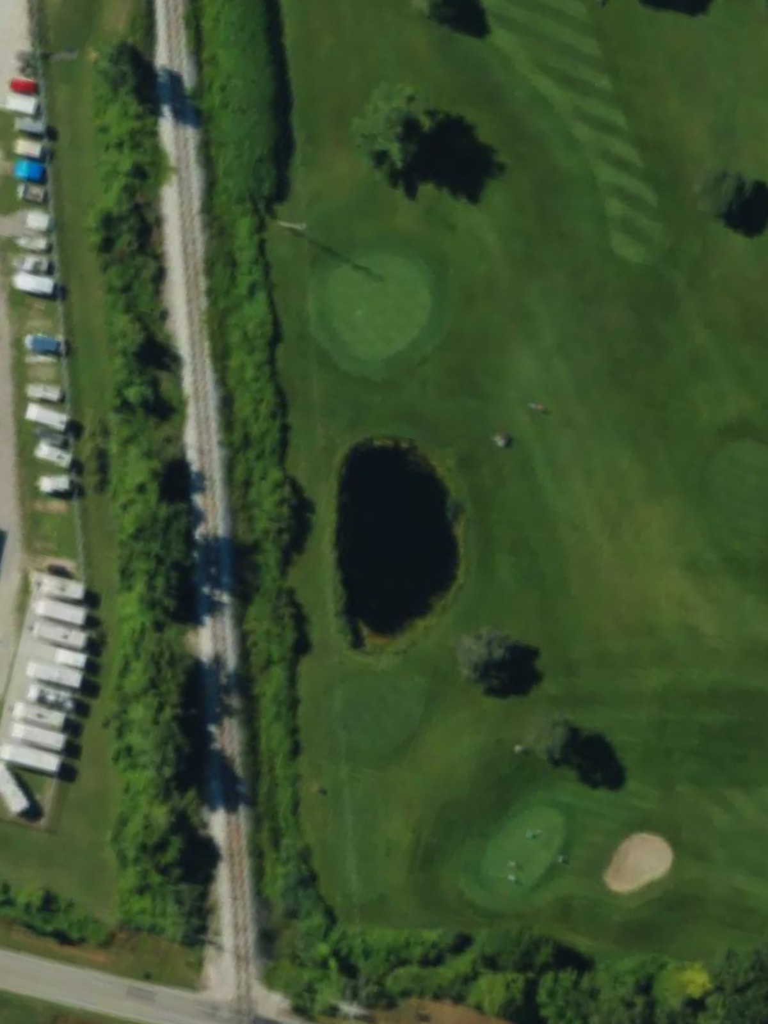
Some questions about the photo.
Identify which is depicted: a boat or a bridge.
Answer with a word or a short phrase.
boat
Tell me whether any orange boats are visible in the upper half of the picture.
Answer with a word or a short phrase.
No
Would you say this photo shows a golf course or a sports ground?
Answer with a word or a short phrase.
golf course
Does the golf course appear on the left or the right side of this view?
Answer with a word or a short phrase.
right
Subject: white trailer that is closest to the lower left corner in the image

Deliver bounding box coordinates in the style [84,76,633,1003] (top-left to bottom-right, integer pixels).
[0,763,33,817]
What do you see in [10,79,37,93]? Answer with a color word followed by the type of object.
red car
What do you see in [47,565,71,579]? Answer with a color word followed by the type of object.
black car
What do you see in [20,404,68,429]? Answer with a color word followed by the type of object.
white trailer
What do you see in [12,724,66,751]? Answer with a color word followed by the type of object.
white trailer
